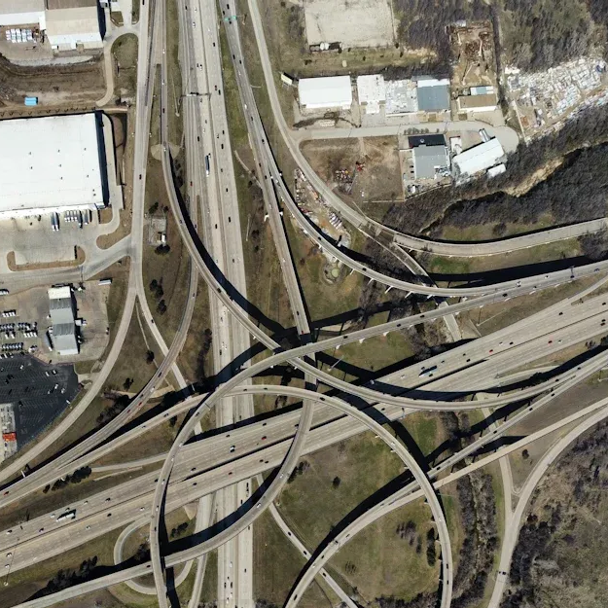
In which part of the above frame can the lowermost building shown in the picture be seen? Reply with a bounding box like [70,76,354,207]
[47,286,80,357]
